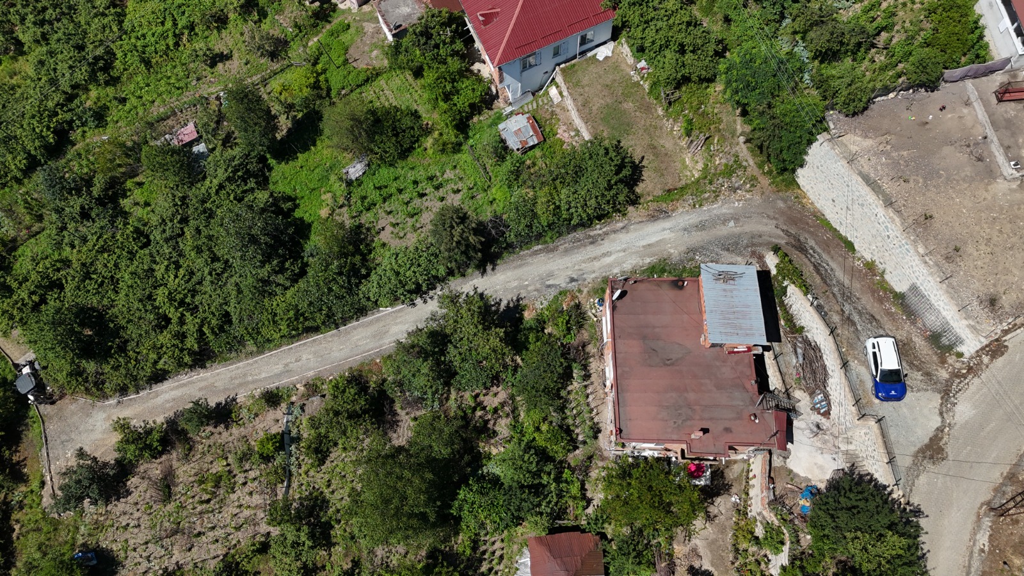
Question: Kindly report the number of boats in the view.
0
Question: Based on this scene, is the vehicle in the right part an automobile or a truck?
automobile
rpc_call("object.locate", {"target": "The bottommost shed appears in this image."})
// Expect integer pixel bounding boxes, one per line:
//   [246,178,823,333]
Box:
[528,532,604,576]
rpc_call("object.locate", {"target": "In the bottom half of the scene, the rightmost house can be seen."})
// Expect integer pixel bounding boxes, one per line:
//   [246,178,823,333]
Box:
[604,264,788,464]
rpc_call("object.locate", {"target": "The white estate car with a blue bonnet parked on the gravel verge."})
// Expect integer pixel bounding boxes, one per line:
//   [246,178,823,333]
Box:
[863,334,912,404]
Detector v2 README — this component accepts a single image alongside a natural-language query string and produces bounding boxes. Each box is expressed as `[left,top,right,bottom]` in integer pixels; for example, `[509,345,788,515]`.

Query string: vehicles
[14,357,78,422]
[863,334,912,404]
